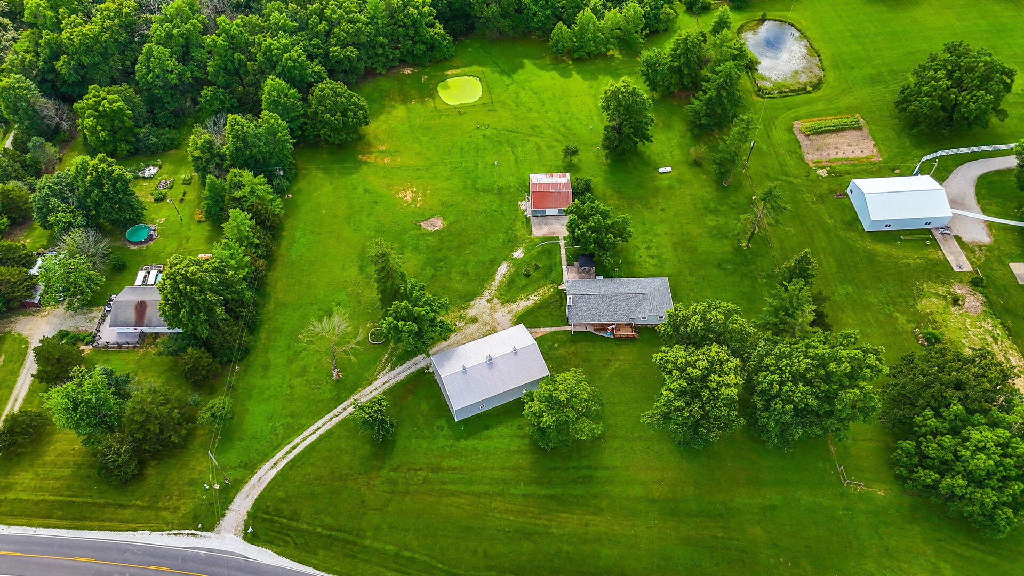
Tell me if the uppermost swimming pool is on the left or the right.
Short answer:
left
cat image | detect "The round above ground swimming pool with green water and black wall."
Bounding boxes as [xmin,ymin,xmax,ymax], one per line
[123,223,152,246]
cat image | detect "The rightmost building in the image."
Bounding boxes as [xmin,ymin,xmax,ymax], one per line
[848,175,953,231]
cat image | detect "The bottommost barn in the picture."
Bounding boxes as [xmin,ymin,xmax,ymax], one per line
[430,324,550,420]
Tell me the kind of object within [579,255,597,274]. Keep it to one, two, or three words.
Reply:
gazebo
